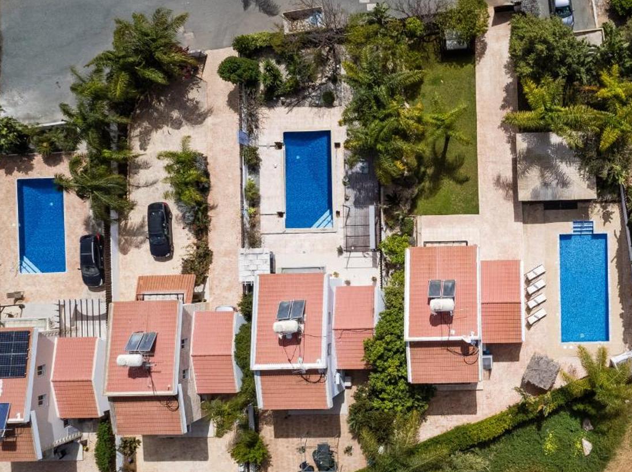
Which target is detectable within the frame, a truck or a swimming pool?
swimming pool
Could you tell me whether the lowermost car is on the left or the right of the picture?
left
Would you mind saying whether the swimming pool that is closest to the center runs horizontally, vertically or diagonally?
vertically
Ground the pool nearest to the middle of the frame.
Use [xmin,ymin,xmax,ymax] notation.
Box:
[280,128,335,231]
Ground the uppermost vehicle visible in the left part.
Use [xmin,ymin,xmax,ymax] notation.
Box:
[144,203,176,257]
